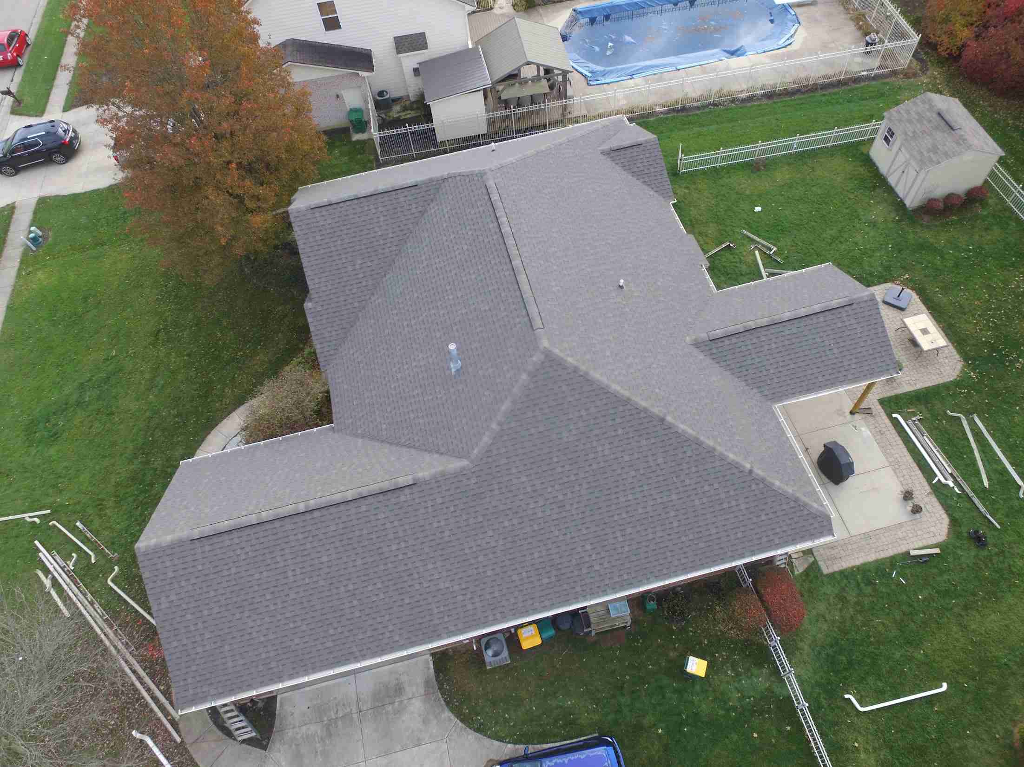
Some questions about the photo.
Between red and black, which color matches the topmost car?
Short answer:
red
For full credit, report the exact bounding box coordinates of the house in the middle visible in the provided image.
[135,114,901,717]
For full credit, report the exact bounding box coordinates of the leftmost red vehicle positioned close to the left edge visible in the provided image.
[0,27,28,72]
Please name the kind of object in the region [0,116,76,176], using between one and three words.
car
